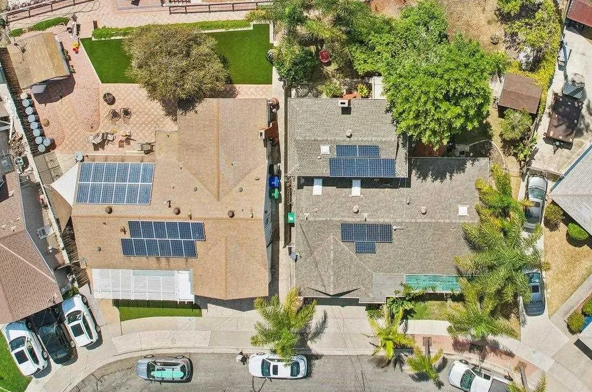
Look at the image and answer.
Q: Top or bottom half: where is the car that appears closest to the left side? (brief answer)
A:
bottom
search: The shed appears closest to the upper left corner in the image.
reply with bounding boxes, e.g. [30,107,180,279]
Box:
[0,33,81,90]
